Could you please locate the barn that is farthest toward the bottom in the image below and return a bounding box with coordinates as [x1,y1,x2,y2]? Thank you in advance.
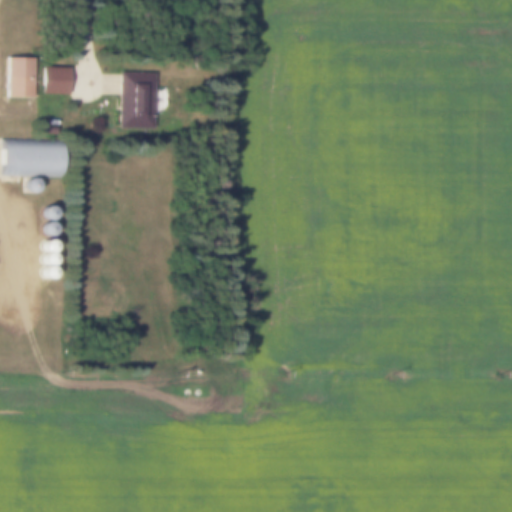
[2,140,68,178]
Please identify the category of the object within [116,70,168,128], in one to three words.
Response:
house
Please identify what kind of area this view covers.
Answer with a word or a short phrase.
farmland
